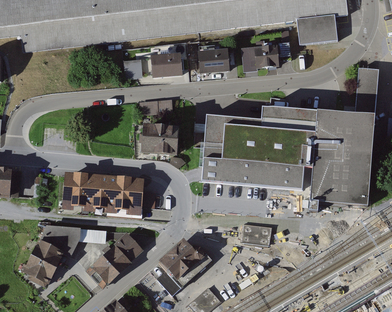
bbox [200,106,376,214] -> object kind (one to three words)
building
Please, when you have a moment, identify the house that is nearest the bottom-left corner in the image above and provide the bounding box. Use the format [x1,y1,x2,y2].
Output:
[26,240,64,288]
